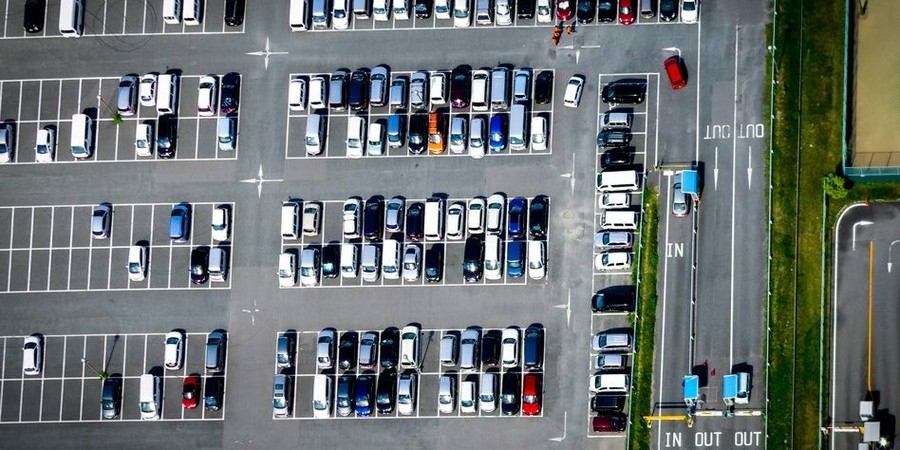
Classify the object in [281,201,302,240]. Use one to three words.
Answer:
vehicle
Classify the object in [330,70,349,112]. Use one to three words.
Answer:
vehicle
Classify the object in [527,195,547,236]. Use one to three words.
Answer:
car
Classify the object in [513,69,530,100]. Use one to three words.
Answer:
car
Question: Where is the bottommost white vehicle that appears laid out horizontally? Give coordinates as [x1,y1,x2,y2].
[590,374,630,393]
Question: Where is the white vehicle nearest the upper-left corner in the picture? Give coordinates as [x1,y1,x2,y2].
[60,0,83,38]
